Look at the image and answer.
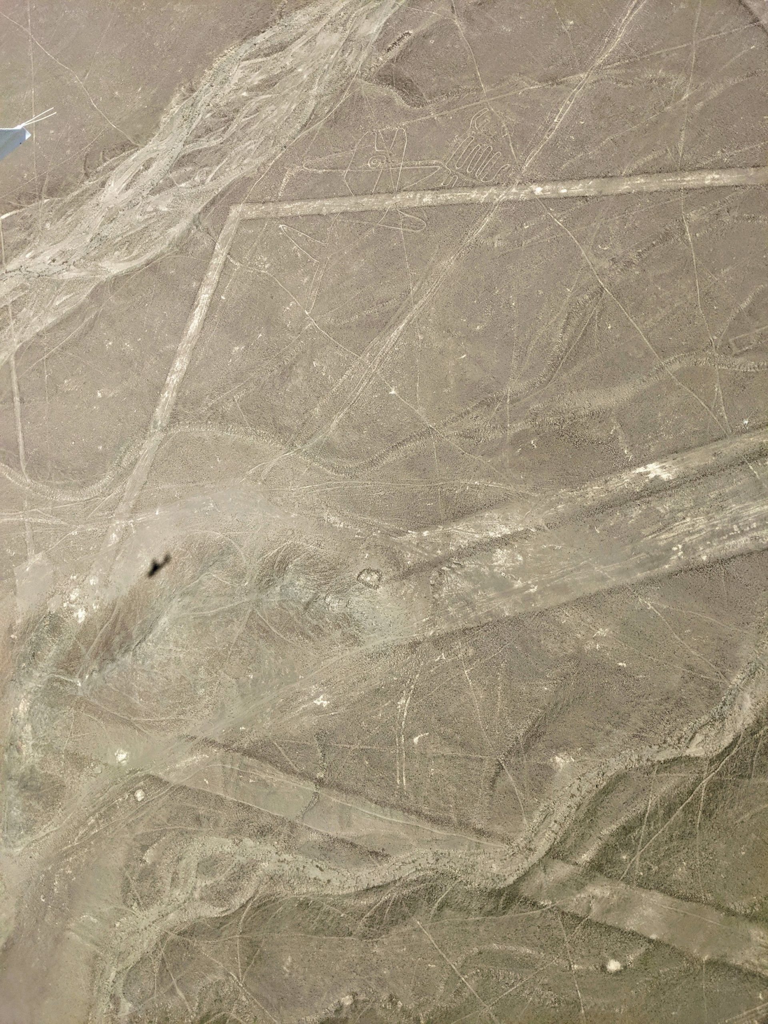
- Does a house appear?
No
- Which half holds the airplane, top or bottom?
top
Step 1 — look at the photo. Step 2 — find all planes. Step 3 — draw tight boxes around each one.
[0,107,56,163]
